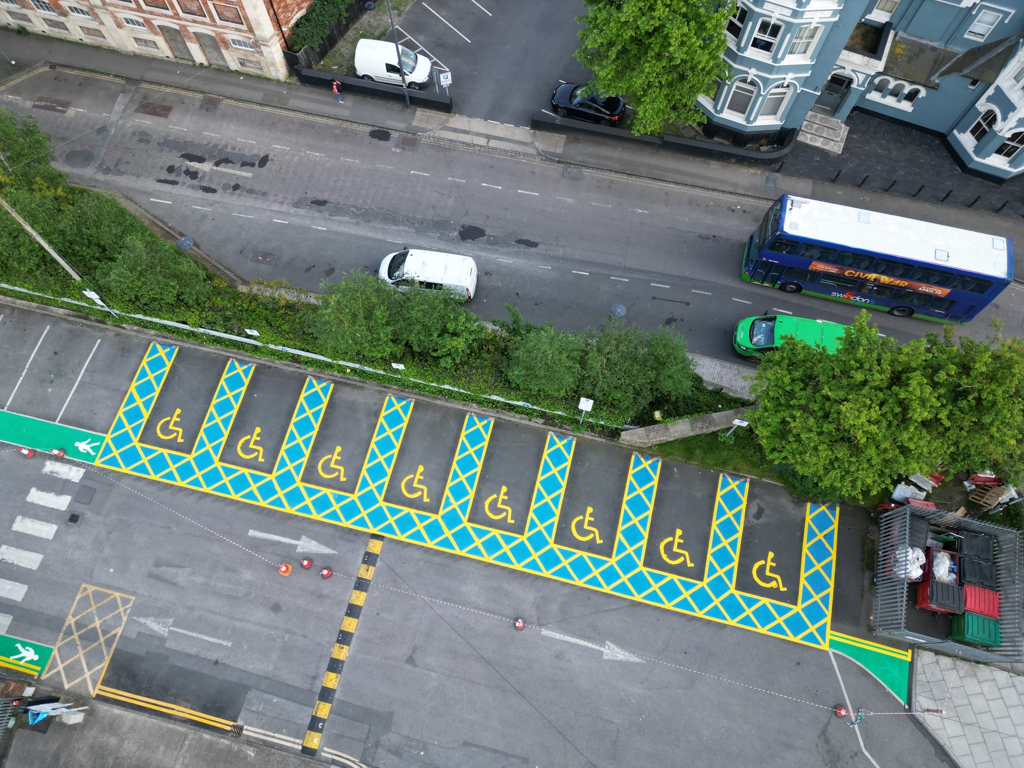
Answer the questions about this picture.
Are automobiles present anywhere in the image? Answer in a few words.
Yes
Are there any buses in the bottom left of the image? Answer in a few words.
No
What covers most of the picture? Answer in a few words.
paved ground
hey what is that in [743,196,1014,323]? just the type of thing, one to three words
bus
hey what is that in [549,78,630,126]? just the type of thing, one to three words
car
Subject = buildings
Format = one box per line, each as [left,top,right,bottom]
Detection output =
[0,0,332,85]
[675,0,1024,153]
